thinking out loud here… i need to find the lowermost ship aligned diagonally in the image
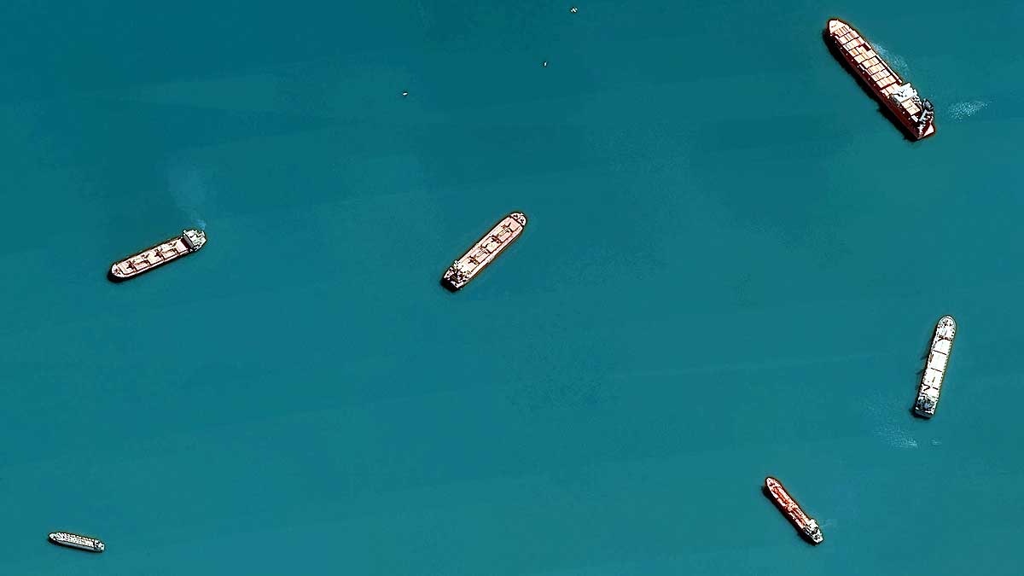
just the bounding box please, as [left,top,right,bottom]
[767,476,824,543]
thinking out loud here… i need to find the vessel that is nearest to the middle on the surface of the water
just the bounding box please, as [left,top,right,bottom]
[445,212,527,287]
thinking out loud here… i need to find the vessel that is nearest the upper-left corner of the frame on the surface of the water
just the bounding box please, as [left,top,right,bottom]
[111,229,209,277]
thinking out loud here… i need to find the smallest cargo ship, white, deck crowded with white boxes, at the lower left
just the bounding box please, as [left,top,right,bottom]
[50,532,105,551]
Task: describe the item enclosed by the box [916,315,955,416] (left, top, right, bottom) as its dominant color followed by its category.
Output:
white ship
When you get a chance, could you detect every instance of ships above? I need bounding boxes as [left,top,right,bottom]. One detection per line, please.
[767,476,824,543]
[829,16,934,137]
[916,315,955,416]
[50,532,105,551]
[445,212,527,287]
[111,229,209,277]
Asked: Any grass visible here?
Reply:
No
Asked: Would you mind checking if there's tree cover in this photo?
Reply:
No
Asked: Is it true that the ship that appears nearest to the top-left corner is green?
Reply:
No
